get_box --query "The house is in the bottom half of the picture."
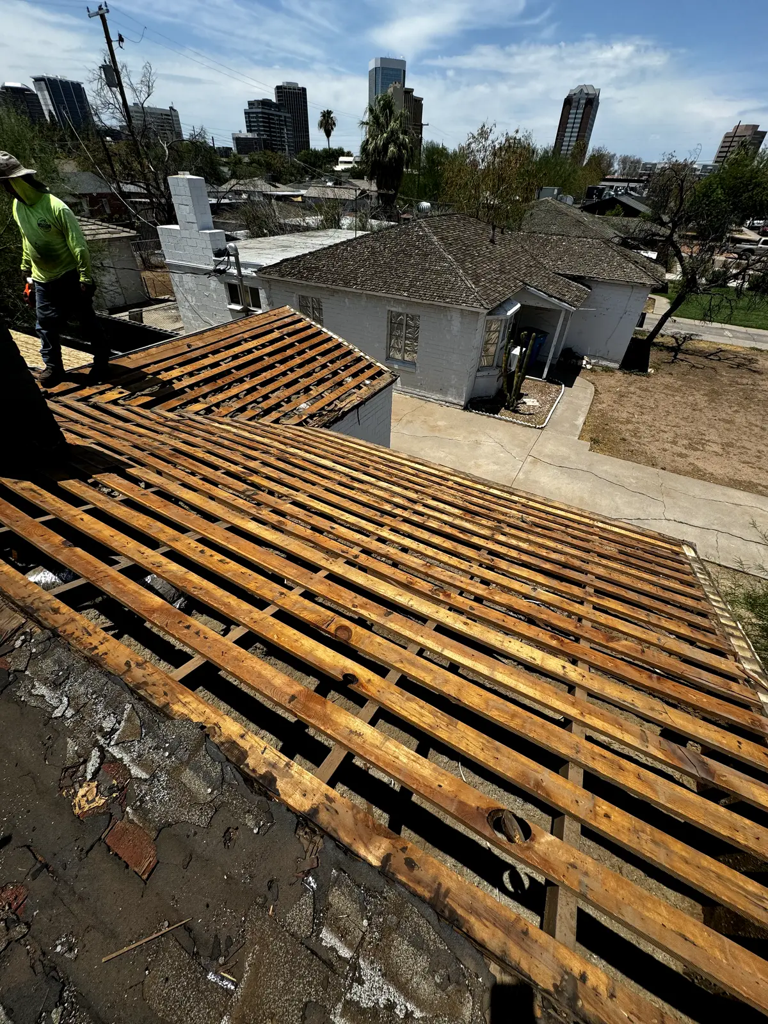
[0,304,768,1024]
